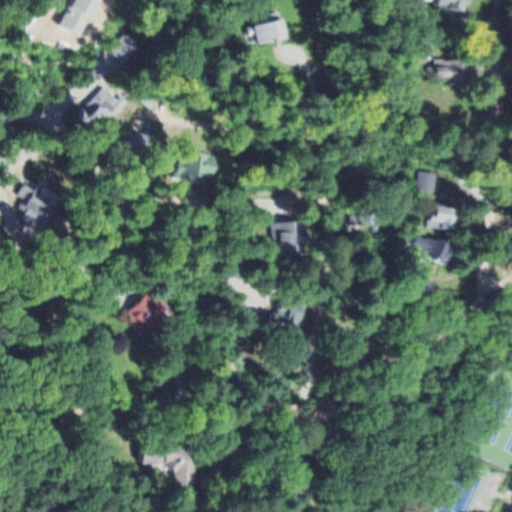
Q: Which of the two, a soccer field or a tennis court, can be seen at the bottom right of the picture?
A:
tennis court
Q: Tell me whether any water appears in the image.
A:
No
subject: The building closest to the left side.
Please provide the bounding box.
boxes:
[15,182,50,233]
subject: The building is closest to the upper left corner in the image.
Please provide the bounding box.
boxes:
[58,0,104,42]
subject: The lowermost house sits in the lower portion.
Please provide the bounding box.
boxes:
[143,449,200,486]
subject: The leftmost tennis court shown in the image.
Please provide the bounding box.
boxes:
[444,474,484,512]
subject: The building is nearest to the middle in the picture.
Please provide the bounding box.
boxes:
[271,222,302,252]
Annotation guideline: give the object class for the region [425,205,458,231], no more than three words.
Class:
house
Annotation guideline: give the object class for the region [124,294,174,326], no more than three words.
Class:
house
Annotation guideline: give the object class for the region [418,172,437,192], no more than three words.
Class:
building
